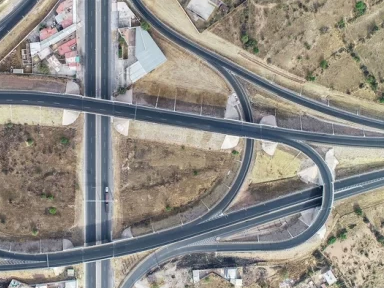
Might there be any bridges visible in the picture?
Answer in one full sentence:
Yes, the image includes a bridge.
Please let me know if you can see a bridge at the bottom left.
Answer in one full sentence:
Yes, a bridge is visible at the bottom left.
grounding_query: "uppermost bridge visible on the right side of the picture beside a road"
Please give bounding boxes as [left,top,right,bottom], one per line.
[222,94,277,155]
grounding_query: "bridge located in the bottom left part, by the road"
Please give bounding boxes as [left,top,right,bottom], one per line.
[53,228,132,276]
